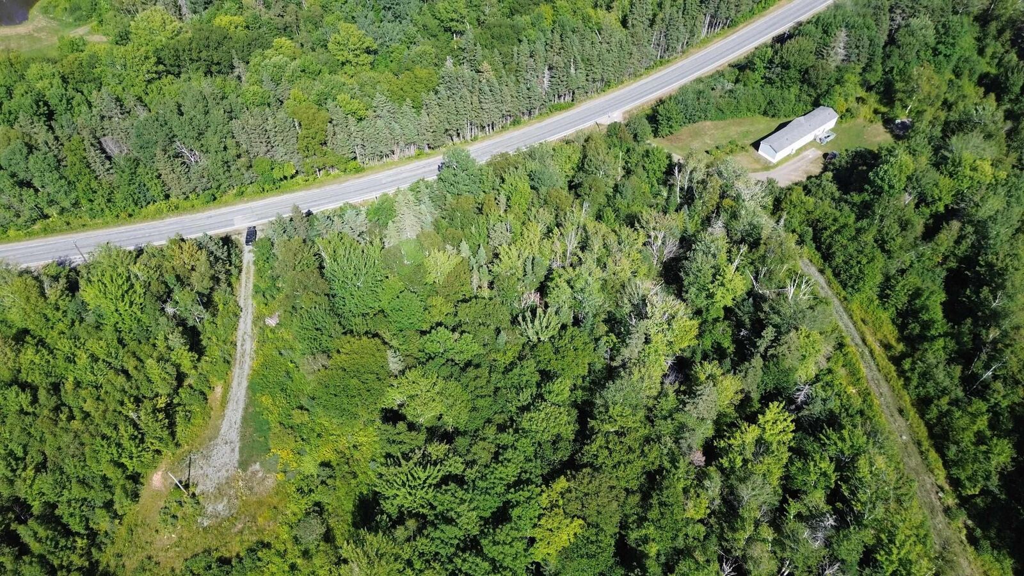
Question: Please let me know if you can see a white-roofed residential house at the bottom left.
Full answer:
No, I see no white-roofed residential house at the bottom left.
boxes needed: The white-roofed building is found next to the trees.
[760,111,840,163]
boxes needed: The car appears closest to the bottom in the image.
[242,226,256,244]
